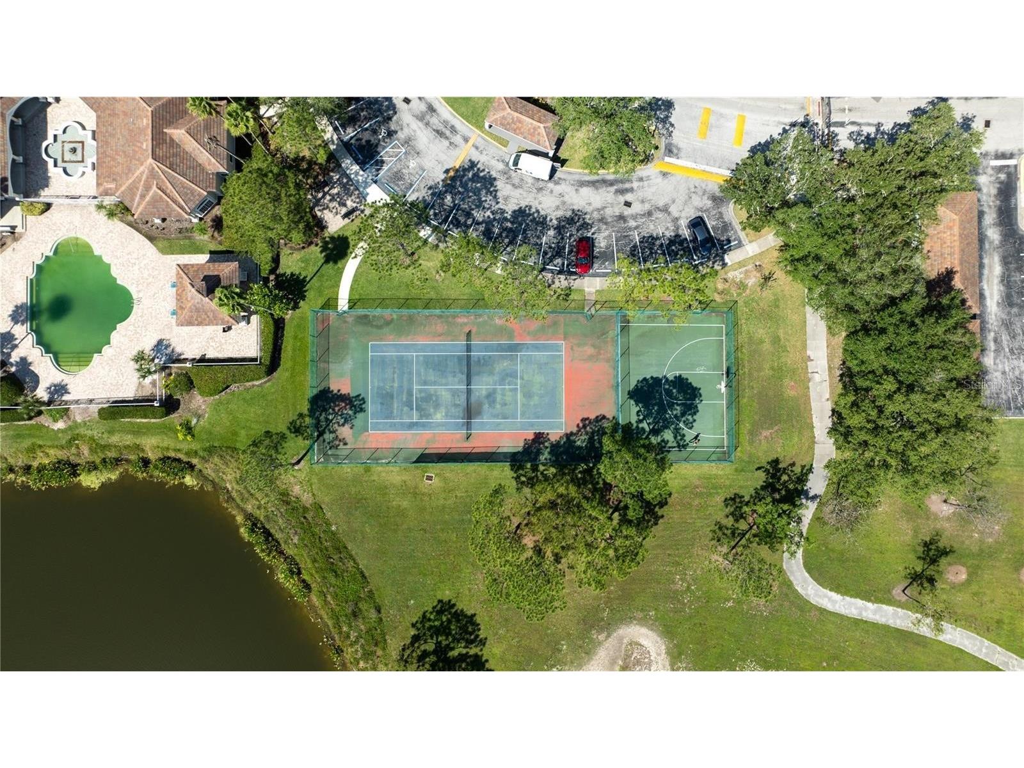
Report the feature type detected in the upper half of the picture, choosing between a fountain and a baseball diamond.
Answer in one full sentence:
You can see a fountain in the upper half of the picture.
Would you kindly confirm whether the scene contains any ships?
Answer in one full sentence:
No, there is no ship in the image.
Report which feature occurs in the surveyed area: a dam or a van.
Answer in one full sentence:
It is a van that can be seen here.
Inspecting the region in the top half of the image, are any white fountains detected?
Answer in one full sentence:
Yes, in the top half of the image there is a white fountain.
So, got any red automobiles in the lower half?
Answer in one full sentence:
No, looking in the lower half, there is no red automobile.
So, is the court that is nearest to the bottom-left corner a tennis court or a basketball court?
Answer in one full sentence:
I'd identify the court that is nearest to the bottom-left corner as a tennis court.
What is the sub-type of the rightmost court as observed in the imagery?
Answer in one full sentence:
What you see as the rightmost court is a basketball court.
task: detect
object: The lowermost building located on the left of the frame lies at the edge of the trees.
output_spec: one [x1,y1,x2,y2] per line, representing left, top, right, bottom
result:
[175,263,247,327]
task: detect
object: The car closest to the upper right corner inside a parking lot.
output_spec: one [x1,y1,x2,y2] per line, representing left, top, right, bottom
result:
[689,214,715,257]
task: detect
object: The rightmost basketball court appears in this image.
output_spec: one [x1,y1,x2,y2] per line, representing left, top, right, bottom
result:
[618,314,728,462]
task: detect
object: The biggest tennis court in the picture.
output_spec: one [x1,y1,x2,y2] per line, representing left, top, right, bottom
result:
[317,314,618,462]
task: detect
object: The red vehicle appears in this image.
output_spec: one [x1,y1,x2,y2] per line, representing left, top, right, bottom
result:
[575,237,593,275]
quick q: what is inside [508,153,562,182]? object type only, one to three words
van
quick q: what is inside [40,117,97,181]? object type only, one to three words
fountain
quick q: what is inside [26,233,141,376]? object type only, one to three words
swimming pool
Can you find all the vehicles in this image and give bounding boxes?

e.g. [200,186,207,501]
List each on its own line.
[575,237,593,275]
[508,153,562,182]
[689,214,715,257]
